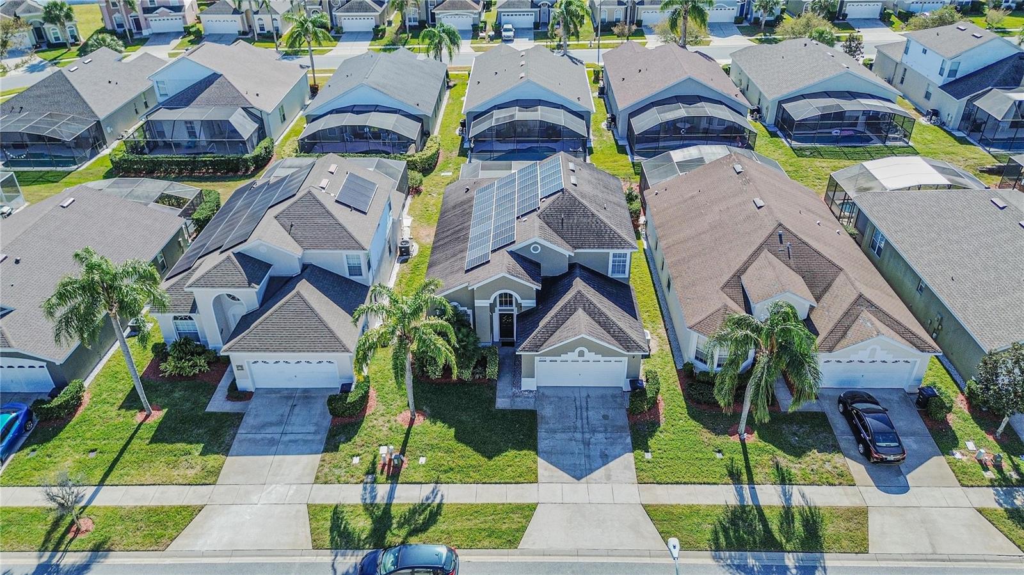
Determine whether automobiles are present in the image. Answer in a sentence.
Yes, the photo shows an automobile.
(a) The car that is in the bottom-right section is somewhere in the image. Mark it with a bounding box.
[842,393,910,462]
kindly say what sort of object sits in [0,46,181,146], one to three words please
house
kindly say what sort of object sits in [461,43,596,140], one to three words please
house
